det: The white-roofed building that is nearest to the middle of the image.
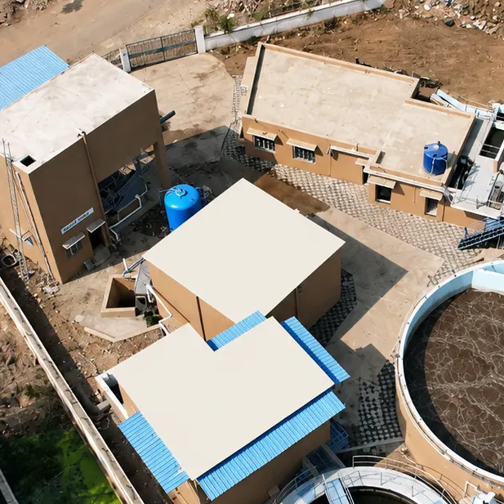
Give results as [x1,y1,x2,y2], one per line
[144,179,346,348]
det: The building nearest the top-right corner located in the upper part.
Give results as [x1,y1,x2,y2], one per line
[240,40,471,226]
